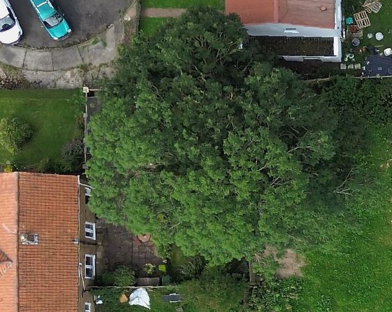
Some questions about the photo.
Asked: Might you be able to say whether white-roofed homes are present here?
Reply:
No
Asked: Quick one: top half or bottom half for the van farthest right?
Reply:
top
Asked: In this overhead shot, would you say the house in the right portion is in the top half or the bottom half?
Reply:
top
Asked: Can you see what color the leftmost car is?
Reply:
white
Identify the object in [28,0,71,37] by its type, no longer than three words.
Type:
van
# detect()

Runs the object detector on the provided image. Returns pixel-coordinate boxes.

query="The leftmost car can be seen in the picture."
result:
[0,0,24,45]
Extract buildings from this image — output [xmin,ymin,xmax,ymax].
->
[224,0,348,64]
[0,168,97,288]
